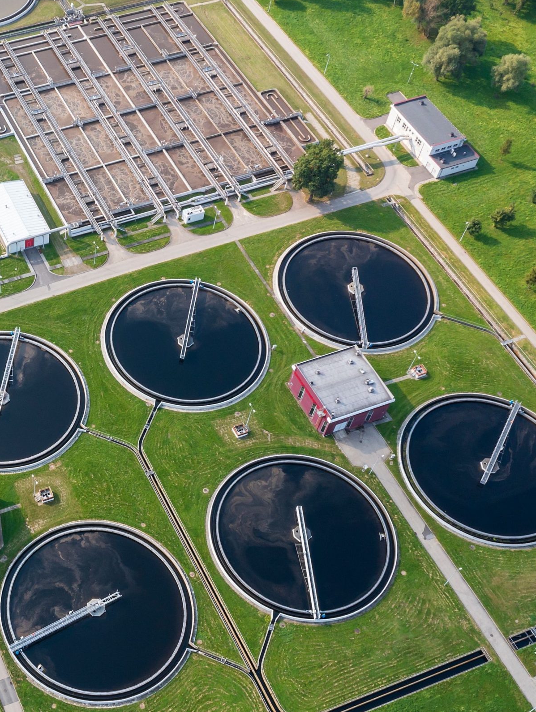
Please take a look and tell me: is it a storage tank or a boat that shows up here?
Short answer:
storage tank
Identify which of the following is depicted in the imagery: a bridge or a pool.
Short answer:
bridge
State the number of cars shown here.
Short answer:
0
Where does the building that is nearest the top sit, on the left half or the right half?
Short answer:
right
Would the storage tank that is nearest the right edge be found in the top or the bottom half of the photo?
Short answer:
bottom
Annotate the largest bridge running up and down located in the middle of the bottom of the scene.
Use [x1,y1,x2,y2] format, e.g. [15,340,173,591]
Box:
[291,505,325,621]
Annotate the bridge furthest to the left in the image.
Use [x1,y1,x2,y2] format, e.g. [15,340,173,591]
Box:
[0,328,21,416]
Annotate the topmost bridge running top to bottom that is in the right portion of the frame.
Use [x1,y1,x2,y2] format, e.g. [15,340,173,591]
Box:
[347,266,372,350]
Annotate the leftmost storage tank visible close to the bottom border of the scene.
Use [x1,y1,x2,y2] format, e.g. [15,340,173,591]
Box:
[0,521,199,706]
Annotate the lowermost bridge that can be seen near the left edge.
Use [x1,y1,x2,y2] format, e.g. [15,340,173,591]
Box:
[7,589,124,657]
